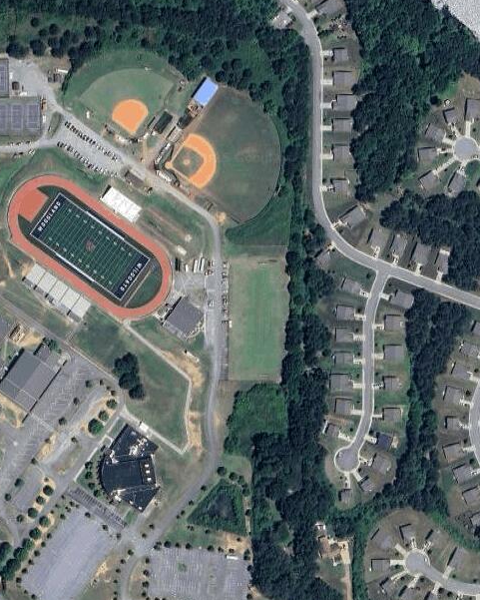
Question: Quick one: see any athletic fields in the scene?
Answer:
Yes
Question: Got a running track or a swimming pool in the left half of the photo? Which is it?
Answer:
running track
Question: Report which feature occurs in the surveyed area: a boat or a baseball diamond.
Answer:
baseball diamond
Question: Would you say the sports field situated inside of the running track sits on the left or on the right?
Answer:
left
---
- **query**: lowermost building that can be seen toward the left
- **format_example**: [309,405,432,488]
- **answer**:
[99,425,158,513]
